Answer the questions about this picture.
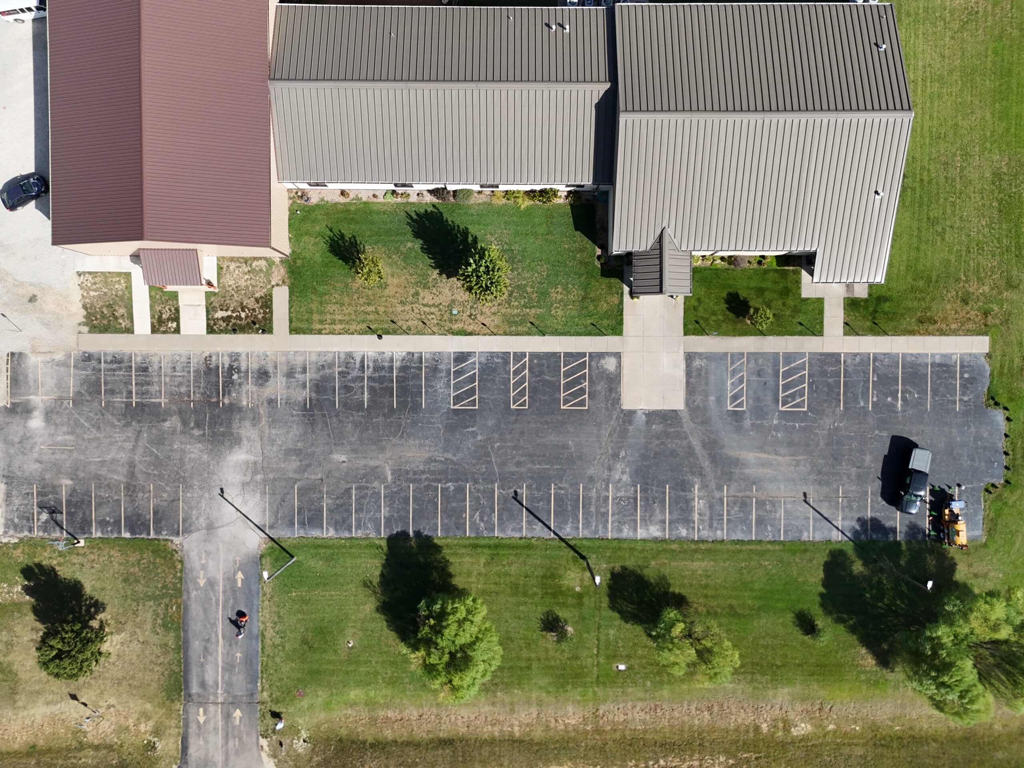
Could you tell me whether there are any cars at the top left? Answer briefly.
Yes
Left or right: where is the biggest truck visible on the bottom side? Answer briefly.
right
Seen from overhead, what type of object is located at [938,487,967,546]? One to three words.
trailer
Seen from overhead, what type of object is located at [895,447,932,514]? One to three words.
truck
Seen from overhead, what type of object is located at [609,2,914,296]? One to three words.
building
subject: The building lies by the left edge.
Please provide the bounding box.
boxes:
[48,0,289,288]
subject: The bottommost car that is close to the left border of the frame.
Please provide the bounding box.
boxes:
[1,178,48,210]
